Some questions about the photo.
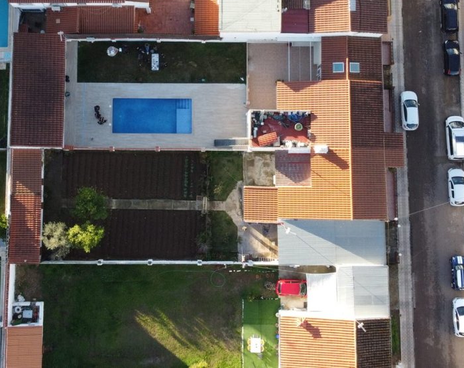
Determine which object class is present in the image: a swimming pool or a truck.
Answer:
swimming pool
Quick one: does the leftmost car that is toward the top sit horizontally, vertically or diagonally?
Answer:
vertically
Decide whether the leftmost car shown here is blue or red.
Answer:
red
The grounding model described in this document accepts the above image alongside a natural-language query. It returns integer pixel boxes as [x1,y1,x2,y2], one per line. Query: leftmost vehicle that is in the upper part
[399,90,421,132]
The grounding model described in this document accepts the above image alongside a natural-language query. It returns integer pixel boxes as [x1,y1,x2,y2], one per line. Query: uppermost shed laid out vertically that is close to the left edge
[9,32,68,147]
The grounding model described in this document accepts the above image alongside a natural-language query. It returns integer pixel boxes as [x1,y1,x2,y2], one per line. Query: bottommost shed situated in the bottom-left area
[5,323,46,368]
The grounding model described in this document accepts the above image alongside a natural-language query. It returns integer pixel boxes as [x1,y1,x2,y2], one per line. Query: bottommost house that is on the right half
[272,300,393,368]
